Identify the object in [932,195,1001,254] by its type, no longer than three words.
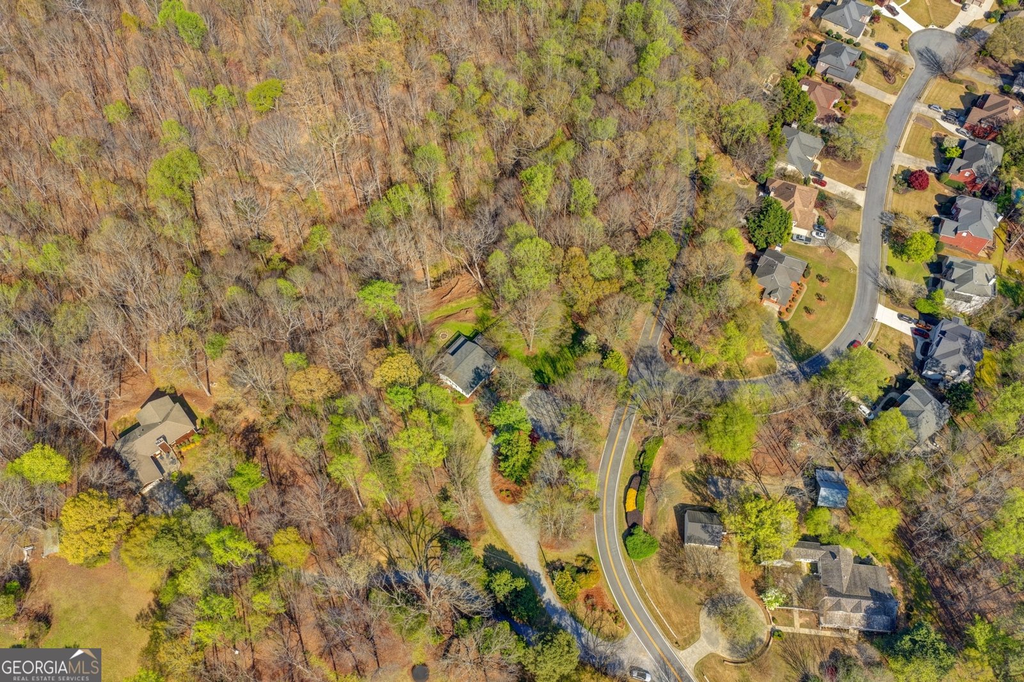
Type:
house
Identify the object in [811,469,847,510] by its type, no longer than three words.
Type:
barn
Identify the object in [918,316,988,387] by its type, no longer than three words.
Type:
house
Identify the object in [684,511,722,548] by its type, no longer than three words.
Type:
building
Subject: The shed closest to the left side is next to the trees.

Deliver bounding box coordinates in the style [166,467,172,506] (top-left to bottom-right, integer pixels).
[42,527,65,559]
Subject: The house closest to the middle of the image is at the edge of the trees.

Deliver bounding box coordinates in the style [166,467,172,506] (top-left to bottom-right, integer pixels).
[431,335,500,404]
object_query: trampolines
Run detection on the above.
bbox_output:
[409,660,431,682]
